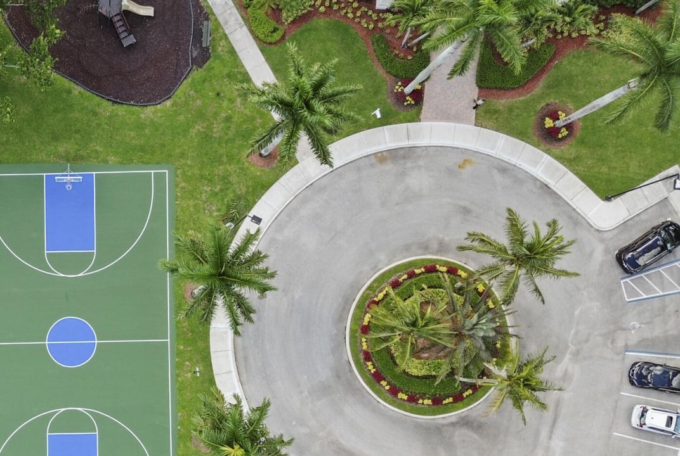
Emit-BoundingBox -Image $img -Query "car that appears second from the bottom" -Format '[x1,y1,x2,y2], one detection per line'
[629,361,680,393]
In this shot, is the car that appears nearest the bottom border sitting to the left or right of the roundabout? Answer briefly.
to its right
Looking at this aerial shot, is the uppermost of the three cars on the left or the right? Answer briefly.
right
